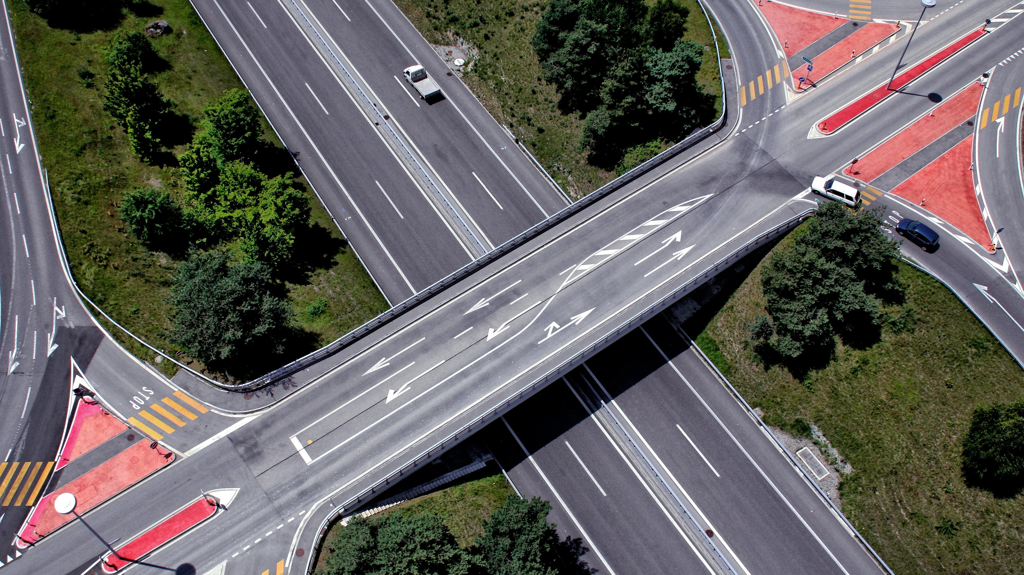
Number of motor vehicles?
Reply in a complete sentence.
The count of motor vehicles comes to 3.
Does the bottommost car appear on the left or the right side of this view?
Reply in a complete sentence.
The bottommost car is on the right side of the image.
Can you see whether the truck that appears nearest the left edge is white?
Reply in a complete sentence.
Yes, the truck that appears nearest the left edge is indeed white.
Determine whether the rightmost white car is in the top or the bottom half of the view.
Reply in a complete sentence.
The rightmost white car is in the top half of the image.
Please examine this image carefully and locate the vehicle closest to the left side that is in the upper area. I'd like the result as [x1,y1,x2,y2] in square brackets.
[403,65,441,101]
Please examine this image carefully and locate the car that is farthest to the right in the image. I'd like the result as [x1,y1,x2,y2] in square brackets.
[896,218,944,254]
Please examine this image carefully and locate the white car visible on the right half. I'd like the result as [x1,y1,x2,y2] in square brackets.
[809,176,859,206]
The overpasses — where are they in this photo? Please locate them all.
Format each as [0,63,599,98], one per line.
[169,58,849,575]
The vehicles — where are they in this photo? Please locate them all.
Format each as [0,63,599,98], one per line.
[896,218,944,254]
[403,65,441,101]
[809,176,859,206]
